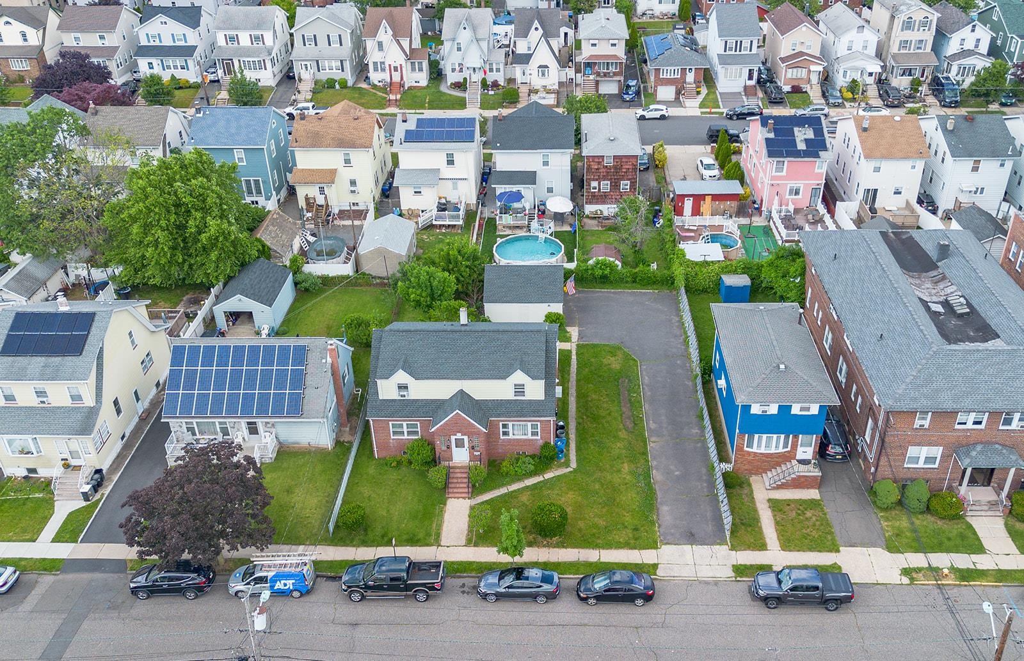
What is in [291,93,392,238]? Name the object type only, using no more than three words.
house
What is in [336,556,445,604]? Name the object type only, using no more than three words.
truck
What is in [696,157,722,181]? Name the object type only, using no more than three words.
car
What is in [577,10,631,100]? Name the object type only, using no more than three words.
house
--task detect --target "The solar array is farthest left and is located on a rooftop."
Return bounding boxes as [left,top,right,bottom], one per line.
[1,306,103,369]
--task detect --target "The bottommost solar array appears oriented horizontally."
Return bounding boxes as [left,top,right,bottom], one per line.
[160,344,310,414]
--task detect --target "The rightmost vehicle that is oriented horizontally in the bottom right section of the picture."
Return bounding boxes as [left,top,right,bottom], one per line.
[757,563,862,608]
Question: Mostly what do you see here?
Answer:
buildings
